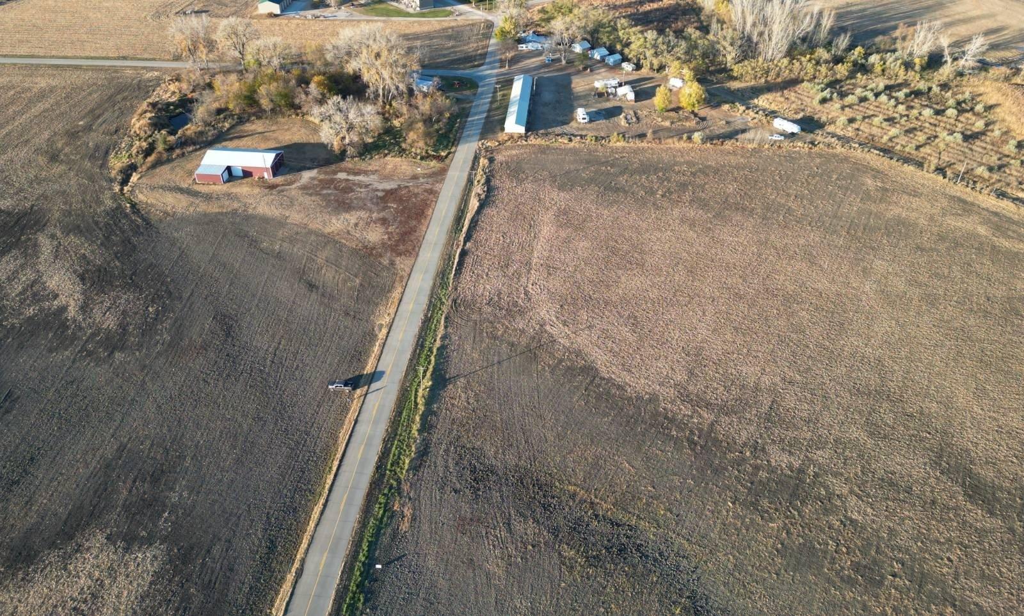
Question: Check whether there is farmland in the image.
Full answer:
Yes, the picture does contain farmland.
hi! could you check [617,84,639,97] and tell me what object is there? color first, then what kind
white vehicle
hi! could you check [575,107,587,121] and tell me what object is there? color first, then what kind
white vehicle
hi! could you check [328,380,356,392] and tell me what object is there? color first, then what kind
gray vehicle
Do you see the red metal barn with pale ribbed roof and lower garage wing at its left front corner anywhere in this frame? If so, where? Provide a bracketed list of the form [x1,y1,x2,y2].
[193,147,296,184]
